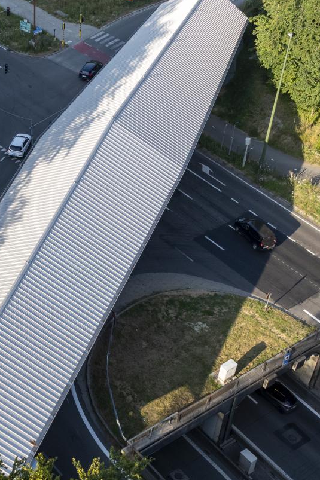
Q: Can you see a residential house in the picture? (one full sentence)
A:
No, I can't see a single residential house in this photo.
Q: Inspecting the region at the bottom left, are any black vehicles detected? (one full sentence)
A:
No, I see no black vehicle at the bottom left.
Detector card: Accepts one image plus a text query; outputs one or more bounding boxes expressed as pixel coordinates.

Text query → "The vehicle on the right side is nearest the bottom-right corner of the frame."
[254,380,308,422]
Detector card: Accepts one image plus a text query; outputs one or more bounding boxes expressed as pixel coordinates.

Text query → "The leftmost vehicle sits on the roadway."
[4,136,33,160]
